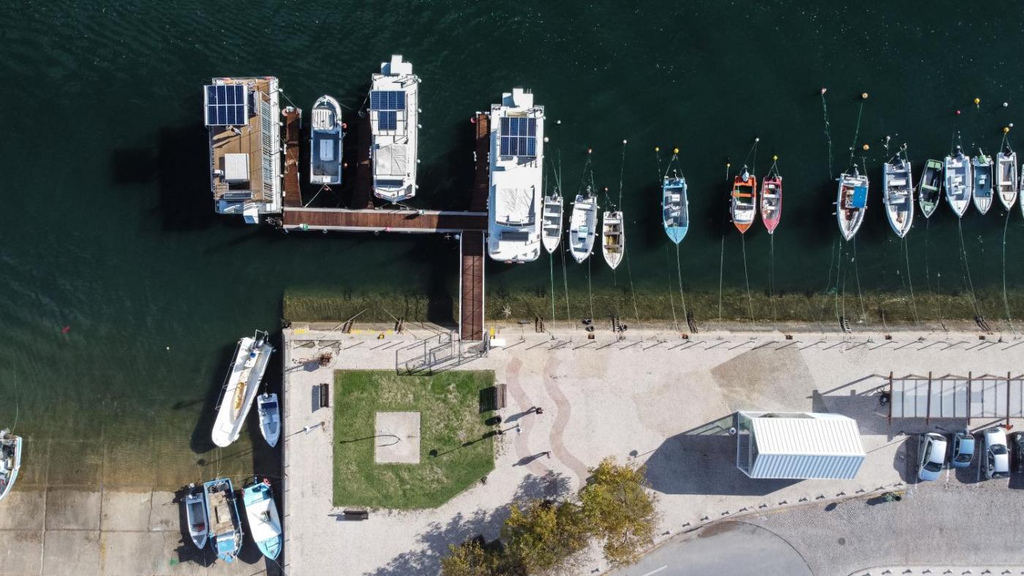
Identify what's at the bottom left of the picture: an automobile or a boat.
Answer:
boat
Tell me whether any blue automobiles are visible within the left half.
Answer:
No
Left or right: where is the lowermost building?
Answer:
right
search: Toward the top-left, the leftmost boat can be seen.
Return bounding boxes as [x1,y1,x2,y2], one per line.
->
[205,77,285,223]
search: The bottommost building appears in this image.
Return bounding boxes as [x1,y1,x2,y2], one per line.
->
[737,412,868,481]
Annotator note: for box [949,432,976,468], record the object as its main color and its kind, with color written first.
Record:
blue car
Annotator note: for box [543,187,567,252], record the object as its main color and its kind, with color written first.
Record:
white boat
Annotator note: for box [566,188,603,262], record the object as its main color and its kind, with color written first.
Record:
white boat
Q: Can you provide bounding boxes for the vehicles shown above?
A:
[978,426,1008,478]
[1010,431,1024,484]
[914,431,946,480]
[949,432,976,468]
